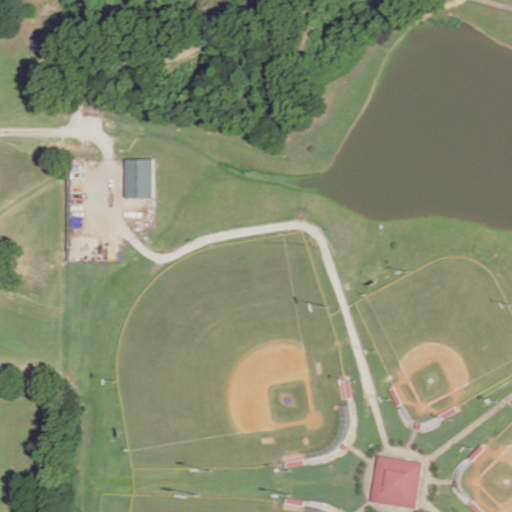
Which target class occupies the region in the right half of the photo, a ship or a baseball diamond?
baseball diamond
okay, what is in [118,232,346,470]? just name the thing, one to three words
baseball field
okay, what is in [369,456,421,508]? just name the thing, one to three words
building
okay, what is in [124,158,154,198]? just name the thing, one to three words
shed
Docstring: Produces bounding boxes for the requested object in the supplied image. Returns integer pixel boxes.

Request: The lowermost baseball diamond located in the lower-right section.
[461,422,512,512]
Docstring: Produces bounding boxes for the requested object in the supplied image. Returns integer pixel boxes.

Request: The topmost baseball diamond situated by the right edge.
[357,257,512,423]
